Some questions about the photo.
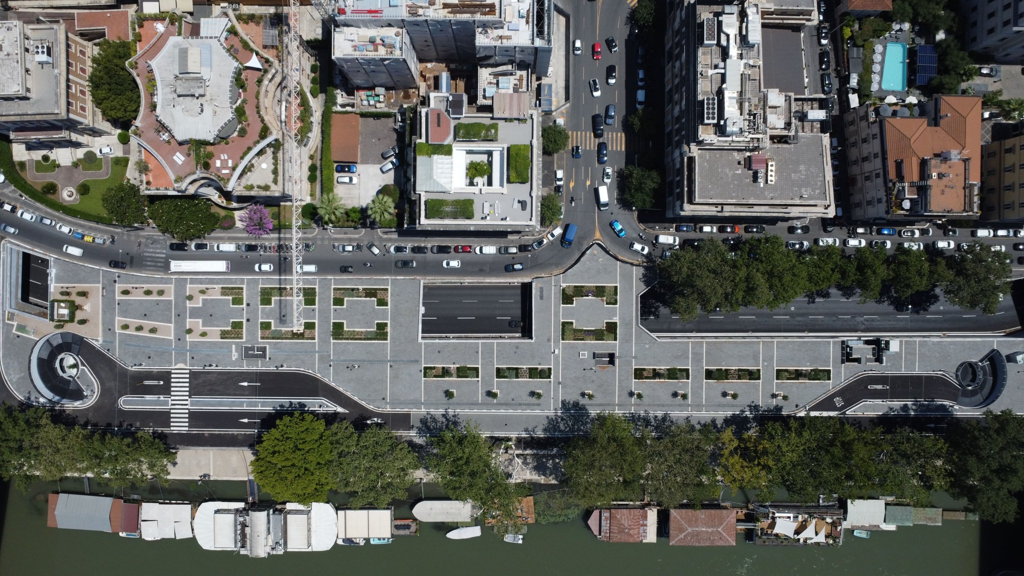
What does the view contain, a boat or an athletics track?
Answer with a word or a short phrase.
boat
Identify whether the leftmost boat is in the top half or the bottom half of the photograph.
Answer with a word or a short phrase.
bottom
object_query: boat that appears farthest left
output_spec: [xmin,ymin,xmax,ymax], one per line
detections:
[47,493,123,532]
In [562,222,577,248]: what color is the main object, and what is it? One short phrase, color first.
blue vehicle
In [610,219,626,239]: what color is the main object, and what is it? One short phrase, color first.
blue car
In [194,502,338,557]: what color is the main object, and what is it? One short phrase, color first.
white boat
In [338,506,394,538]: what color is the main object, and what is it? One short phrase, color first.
white boat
